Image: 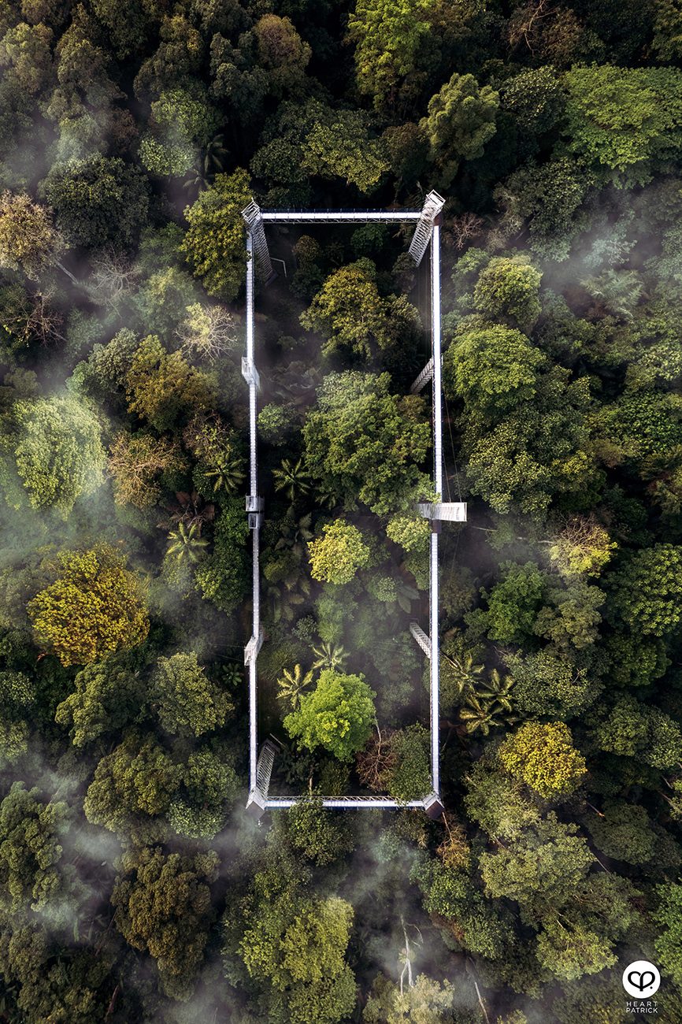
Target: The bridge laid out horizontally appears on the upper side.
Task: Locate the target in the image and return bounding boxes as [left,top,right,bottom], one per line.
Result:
[261,208,427,223]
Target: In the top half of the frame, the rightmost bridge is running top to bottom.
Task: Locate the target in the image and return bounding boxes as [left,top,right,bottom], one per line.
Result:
[431,226,444,503]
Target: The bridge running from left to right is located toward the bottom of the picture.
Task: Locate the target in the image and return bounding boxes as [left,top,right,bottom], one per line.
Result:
[266,795,425,810]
